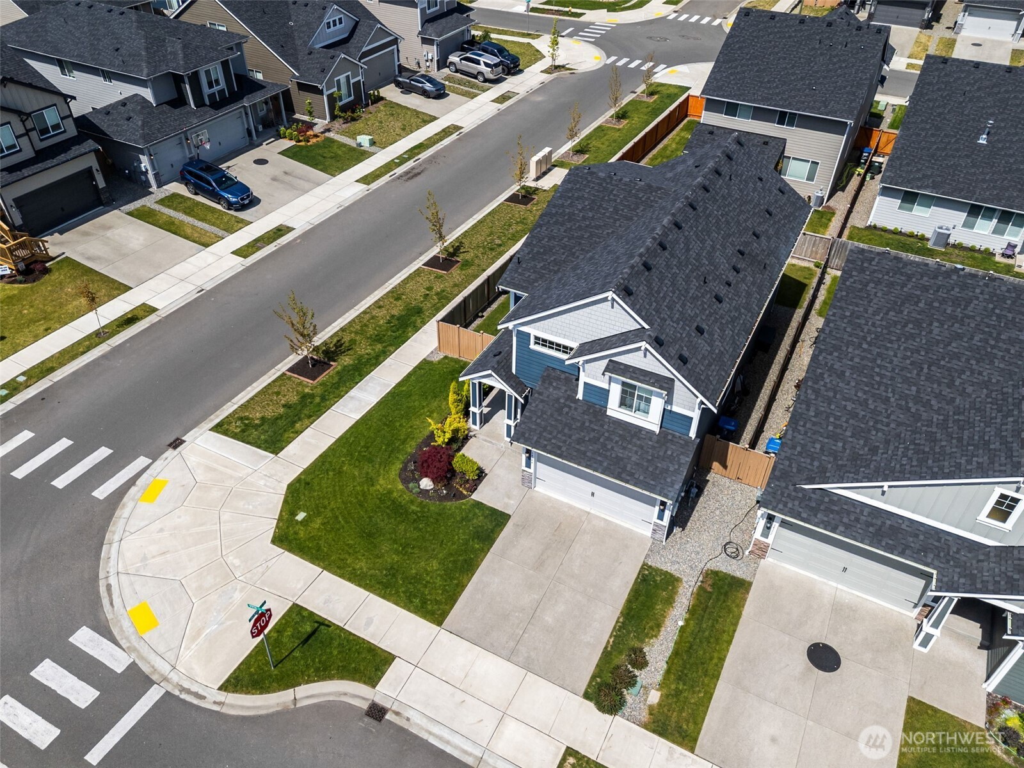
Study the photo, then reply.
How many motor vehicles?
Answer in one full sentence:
The picture shows 4 motor vehicles.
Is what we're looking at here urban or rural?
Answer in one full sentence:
This place is urban.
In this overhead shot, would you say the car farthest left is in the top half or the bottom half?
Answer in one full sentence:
Seen from above, the car farthest left lies in the top half of the view.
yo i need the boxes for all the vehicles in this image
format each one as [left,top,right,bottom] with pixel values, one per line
[464,44,519,72]
[446,50,500,80]
[393,75,445,97]
[181,155,252,205]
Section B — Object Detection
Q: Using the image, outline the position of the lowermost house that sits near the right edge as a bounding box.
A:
[742,244,1024,705]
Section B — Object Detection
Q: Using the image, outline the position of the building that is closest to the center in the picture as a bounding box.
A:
[458,133,815,549]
